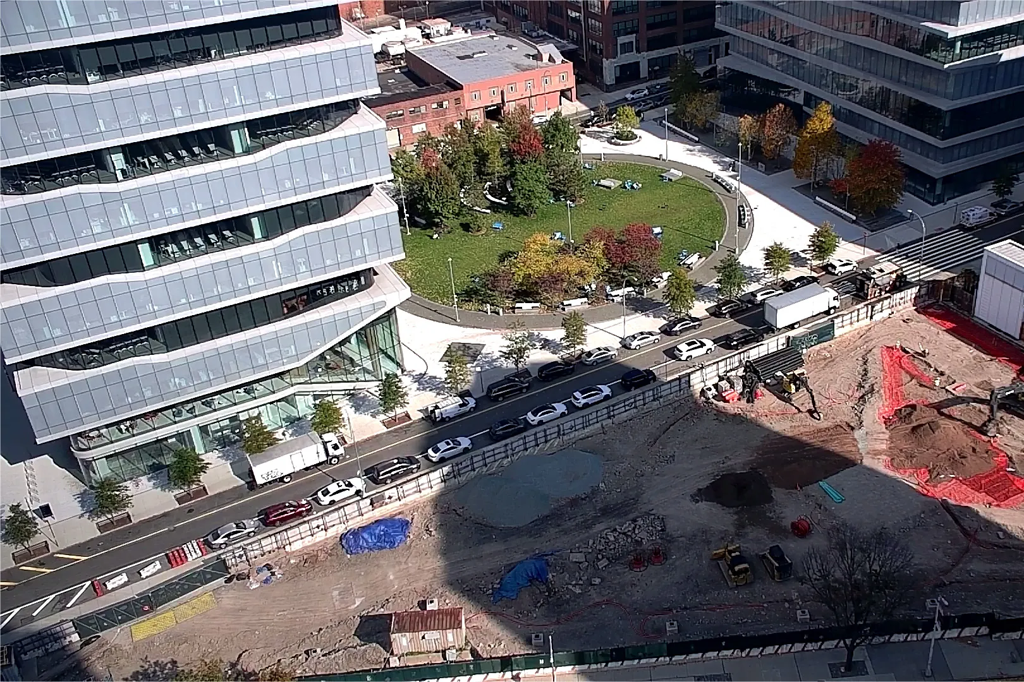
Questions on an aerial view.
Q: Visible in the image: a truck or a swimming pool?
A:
truck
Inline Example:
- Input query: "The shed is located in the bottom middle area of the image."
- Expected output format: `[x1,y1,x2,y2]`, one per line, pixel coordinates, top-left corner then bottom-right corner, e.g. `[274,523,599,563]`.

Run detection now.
[381,598,463,661]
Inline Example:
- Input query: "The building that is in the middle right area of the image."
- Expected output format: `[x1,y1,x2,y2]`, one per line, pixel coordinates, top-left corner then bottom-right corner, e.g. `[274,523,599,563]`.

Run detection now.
[974,240,1024,340]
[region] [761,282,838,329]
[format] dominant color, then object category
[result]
white truck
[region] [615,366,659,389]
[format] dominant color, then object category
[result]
black car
